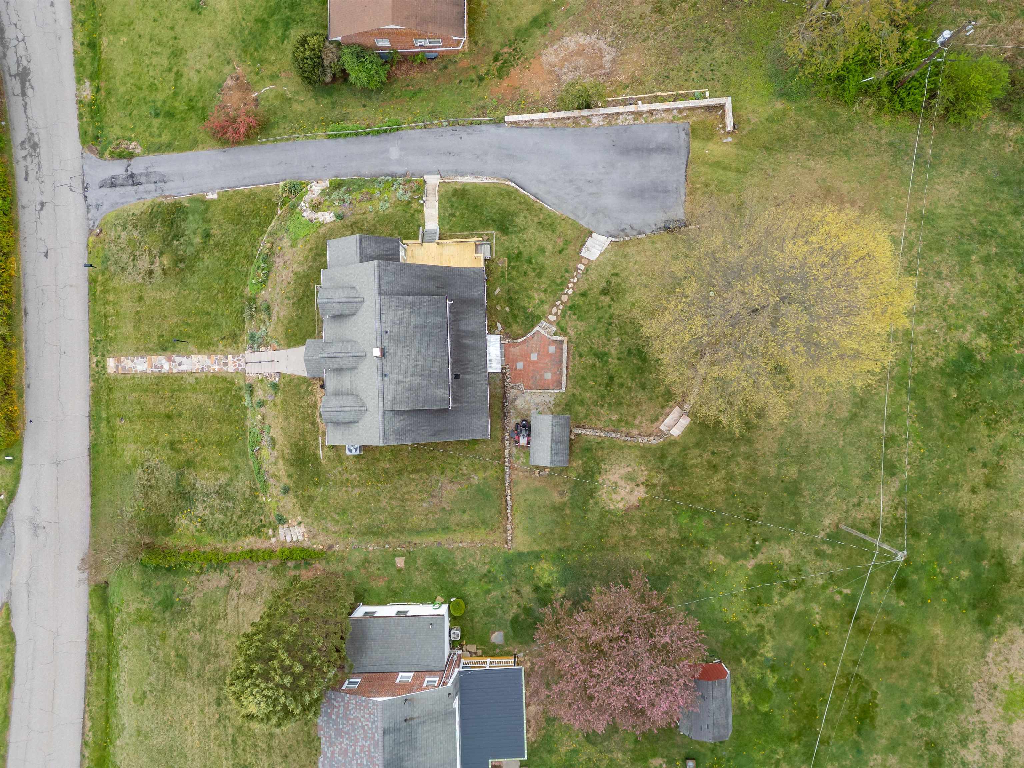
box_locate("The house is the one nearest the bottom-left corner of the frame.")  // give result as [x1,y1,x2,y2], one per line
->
[315,595,527,768]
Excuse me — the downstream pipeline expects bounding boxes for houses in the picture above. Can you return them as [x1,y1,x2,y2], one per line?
[327,0,468,64]
[315,595,527,768]
[303,234,502,447]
